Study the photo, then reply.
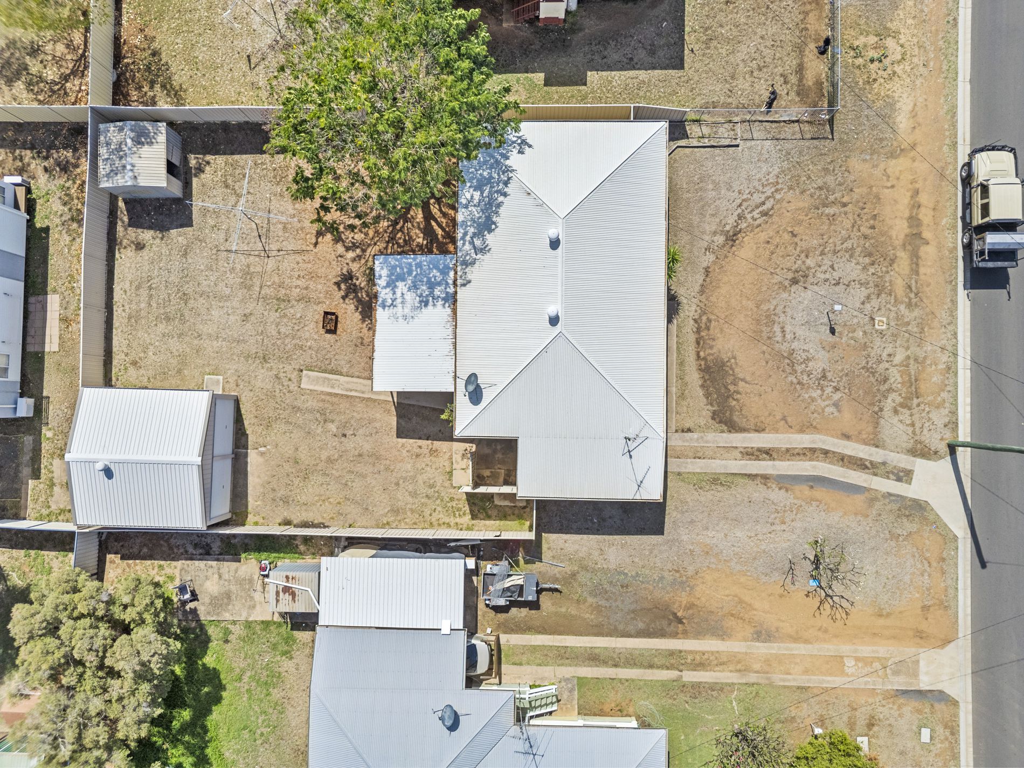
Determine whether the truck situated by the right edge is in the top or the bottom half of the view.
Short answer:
top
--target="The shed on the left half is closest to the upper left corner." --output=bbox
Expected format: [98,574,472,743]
[100,121,181,197]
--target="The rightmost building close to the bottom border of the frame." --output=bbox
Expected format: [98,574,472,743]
[306,606,670,768]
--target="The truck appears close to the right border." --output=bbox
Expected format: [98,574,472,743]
[956,132,1024,270]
